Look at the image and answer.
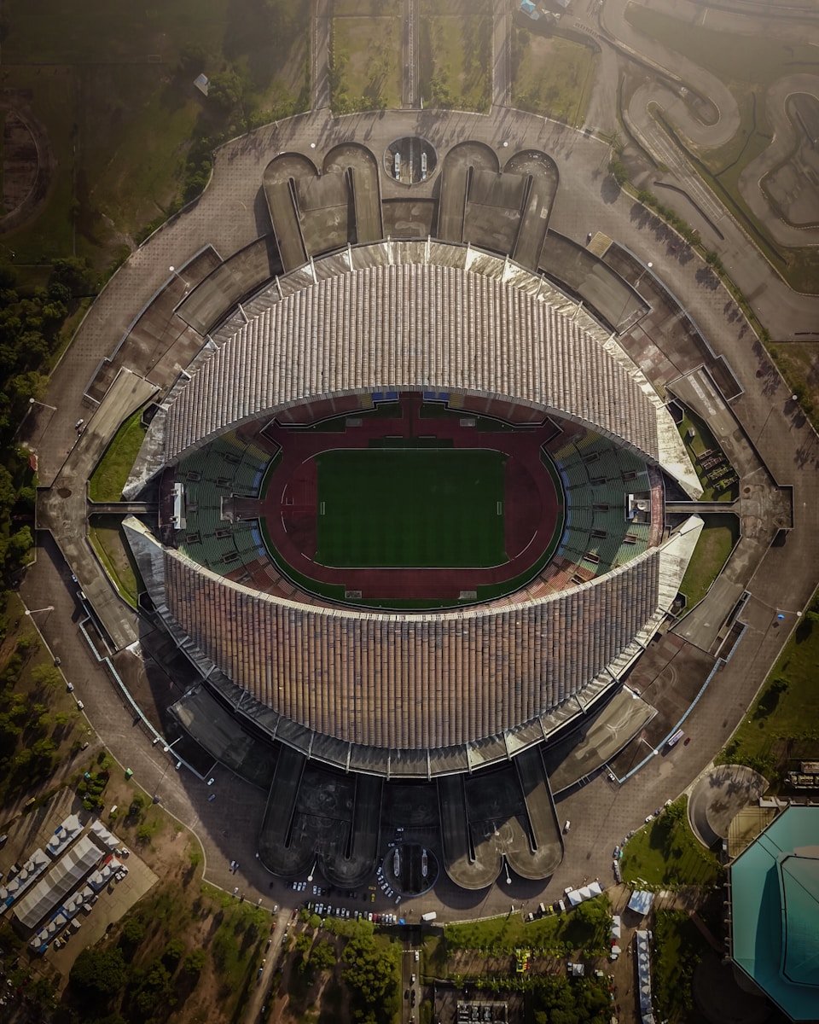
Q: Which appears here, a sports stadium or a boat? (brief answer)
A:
sports stadium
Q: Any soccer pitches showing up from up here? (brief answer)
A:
Yes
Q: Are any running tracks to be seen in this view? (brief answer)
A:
Yes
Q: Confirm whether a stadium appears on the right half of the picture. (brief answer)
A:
Yes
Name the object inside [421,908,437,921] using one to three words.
vehicle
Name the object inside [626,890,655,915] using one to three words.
tent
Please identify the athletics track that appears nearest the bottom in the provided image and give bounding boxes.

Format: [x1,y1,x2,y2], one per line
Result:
[260,401,564,609]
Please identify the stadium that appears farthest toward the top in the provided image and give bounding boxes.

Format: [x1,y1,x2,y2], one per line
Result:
[122,237,704,780]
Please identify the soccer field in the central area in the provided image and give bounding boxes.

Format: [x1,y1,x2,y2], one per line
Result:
[318,449,504,567]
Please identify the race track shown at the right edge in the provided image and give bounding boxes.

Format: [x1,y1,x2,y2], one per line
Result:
[599,0,819,343]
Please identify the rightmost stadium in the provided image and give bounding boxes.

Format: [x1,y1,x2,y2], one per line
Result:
[715,792,819,1022]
